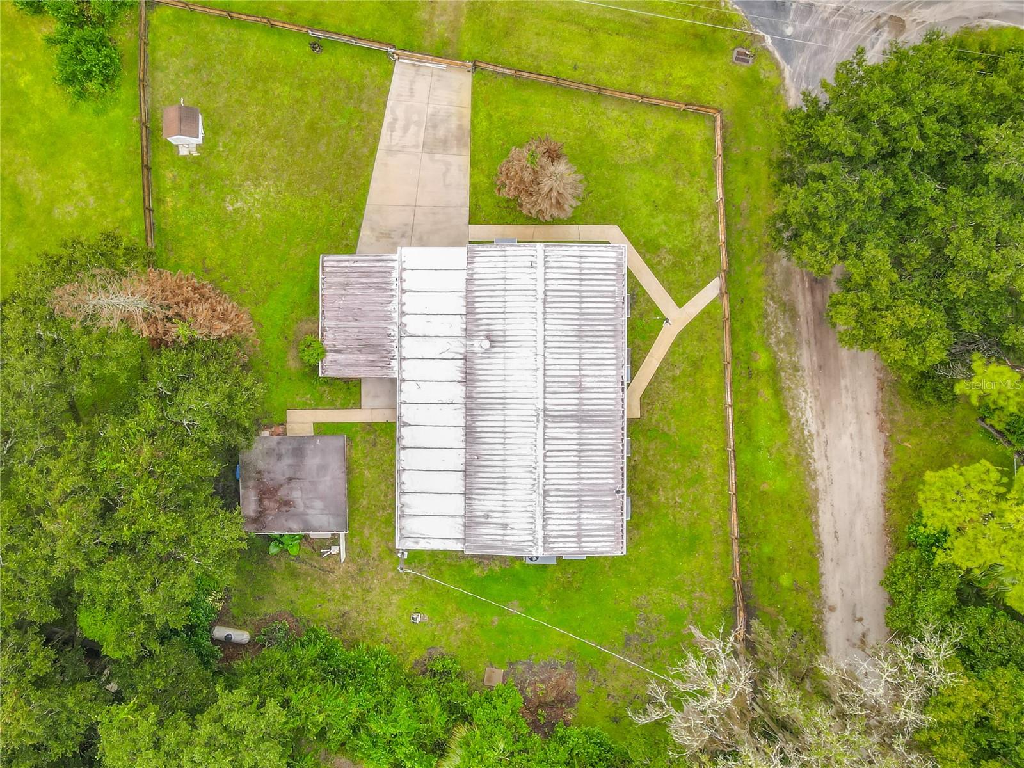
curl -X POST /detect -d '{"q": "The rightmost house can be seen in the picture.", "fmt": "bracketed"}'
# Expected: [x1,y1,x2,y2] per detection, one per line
[464,239,630,560]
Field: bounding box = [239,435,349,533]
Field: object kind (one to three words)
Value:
shed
